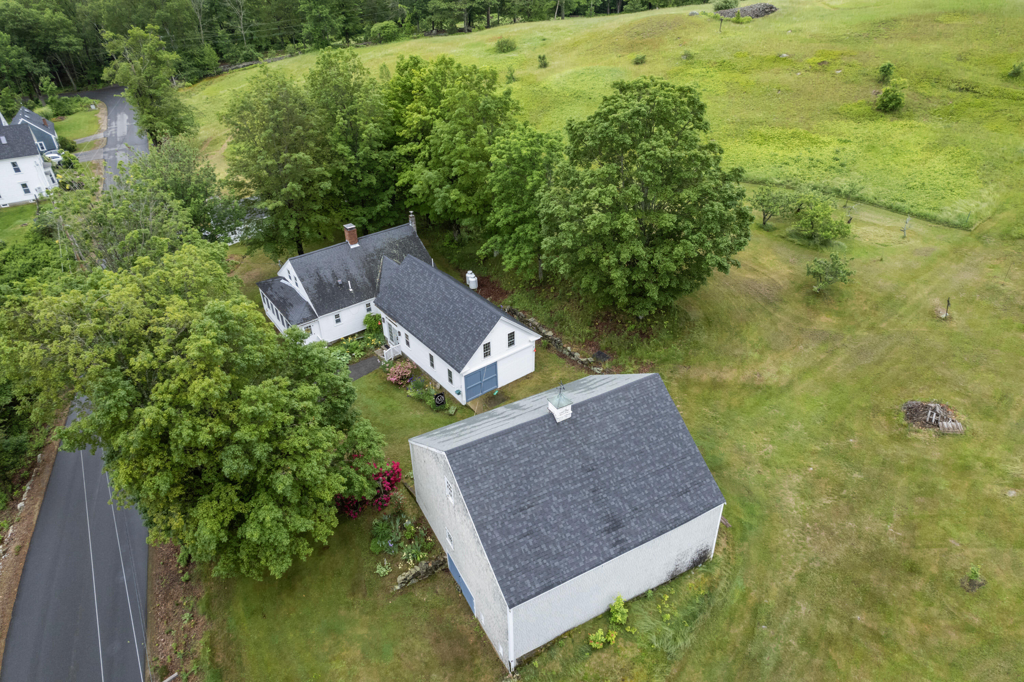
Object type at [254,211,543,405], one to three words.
house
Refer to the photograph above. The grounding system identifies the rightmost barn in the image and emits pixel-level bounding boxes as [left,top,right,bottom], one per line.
[407,373,726,670]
